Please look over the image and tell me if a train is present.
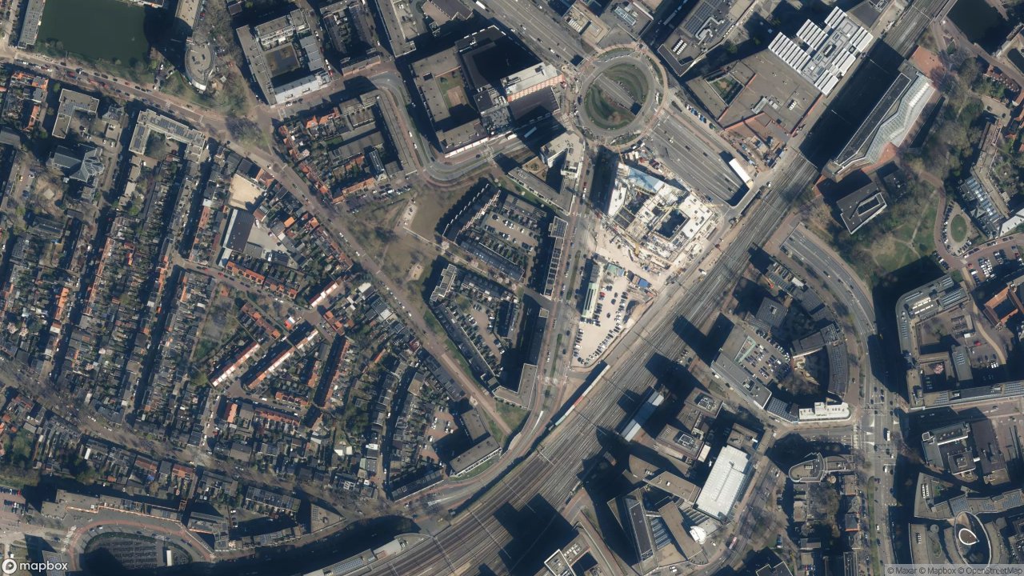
Yes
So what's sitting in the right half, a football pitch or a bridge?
bridge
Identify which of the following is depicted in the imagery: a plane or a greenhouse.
greenhouse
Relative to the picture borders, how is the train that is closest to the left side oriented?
on a diagonal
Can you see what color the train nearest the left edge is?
white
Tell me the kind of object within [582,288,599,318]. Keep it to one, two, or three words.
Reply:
shed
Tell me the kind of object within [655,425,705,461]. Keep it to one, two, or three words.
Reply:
building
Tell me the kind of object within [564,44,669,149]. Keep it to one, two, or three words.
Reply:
roundabout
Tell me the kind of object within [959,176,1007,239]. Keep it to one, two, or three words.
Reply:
greenhouse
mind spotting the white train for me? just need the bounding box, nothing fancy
[545,366,610,431]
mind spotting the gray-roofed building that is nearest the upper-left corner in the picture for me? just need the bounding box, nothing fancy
[18,0,46,50]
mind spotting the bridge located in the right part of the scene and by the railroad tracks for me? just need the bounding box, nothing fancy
[704,167,816,284]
